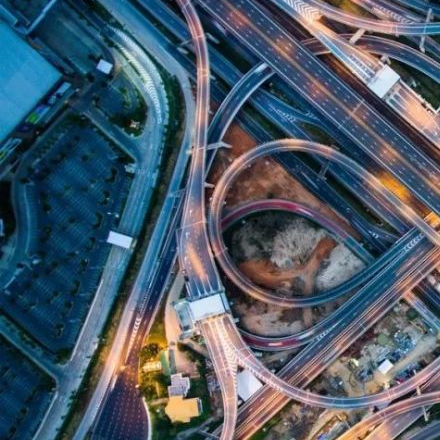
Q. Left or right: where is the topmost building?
left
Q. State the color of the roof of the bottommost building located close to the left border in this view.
blue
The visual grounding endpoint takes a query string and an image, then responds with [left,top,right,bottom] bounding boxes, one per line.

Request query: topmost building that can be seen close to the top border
[0,0,59,34]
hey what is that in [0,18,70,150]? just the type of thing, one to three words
building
